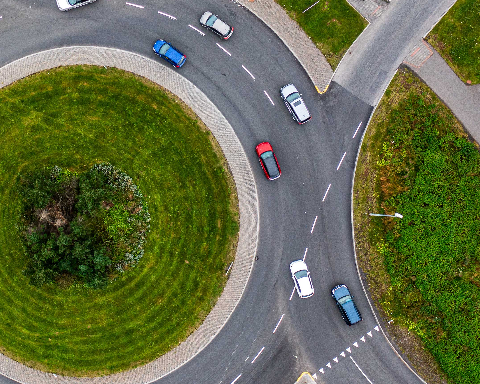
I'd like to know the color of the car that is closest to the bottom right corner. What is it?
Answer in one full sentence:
In this view, the car that is closest to the bottom right corner is blue.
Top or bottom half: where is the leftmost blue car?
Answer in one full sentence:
Seen from above, the leftmost blue car lies in the top half of the view.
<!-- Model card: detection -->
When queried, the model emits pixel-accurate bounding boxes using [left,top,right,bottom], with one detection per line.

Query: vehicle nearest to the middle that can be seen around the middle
[256,141,283,182]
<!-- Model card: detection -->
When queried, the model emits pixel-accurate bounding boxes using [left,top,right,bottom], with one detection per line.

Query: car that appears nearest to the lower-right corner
[332,284,363,327]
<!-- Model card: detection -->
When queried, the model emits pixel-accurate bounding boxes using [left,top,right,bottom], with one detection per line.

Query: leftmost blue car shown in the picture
[151,39,188,69]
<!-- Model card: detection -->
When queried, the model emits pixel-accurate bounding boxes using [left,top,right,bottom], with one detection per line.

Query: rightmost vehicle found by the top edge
[199,11,235,40]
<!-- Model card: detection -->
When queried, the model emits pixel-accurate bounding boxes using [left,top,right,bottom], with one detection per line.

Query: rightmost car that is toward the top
[280,82,312,124]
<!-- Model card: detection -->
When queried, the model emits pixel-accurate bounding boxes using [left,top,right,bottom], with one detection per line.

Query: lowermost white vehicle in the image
[289,260,314,299]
